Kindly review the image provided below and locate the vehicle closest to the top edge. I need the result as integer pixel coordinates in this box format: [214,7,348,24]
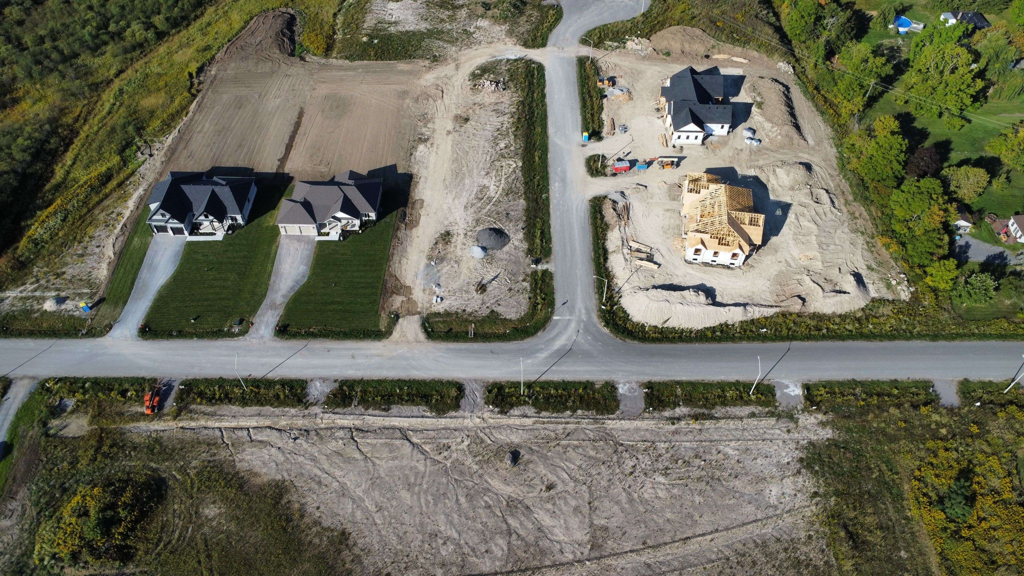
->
[598,74,612,86]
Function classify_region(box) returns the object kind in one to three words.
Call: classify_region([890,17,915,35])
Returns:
swimming pool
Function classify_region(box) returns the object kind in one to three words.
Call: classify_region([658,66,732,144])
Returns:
house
